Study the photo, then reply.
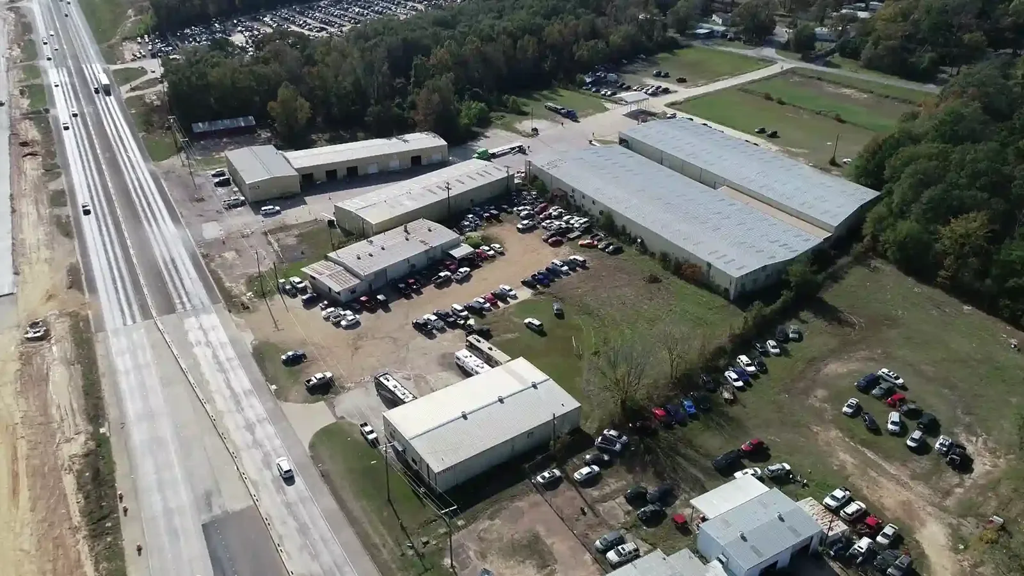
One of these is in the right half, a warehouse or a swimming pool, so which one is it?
warehouse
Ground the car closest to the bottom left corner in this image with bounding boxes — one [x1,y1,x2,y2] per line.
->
[275,457,296,484]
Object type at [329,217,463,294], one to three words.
building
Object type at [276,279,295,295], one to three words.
vehicle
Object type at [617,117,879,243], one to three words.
warehouse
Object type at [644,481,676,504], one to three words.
car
